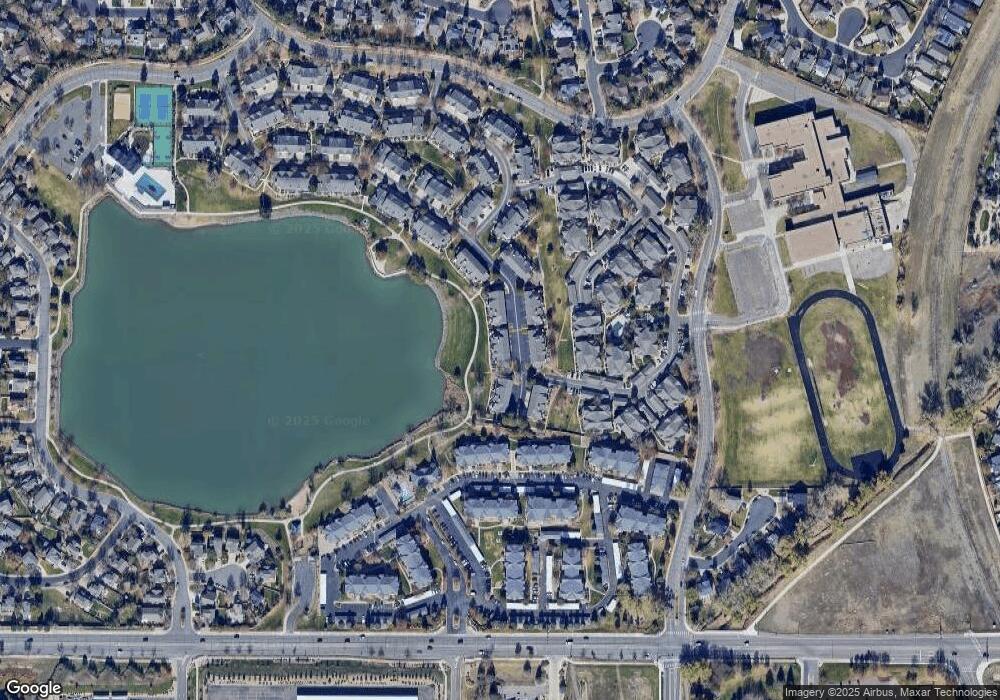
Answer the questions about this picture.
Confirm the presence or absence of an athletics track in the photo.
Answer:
Yes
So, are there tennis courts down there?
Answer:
Yes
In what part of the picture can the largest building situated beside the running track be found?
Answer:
top right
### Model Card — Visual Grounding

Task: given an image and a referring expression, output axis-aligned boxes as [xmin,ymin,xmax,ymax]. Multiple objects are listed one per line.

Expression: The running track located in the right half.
[789,290,903,480]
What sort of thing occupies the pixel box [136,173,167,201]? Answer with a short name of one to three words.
swimming pool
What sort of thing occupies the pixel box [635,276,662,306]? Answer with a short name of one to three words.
house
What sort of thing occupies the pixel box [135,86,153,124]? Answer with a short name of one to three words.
tennis court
